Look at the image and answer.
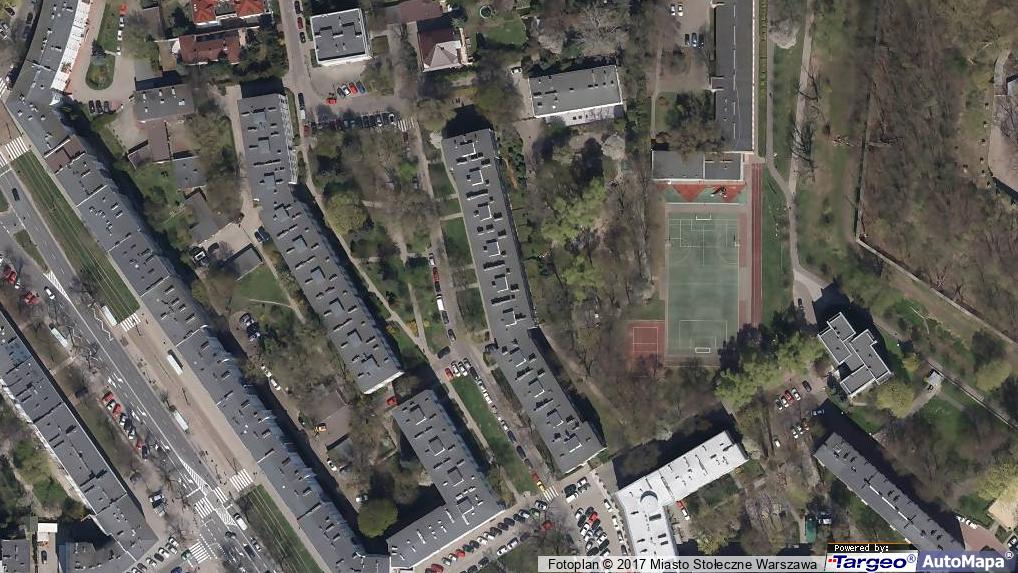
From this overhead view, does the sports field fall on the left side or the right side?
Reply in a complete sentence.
The sports field sits on the right side.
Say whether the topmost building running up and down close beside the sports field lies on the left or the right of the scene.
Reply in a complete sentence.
The topmost building running up and down close beside the sports field is on the right side of the image.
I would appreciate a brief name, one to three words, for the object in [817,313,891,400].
house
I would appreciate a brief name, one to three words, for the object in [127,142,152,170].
shed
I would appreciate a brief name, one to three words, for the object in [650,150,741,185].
building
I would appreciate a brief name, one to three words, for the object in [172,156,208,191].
house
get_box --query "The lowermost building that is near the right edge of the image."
[809,432,989,573]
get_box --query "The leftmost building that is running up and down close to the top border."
[4,0,90,156]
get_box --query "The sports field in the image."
[663,203,745,367]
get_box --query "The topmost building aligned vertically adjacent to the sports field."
[708,0,754,158]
